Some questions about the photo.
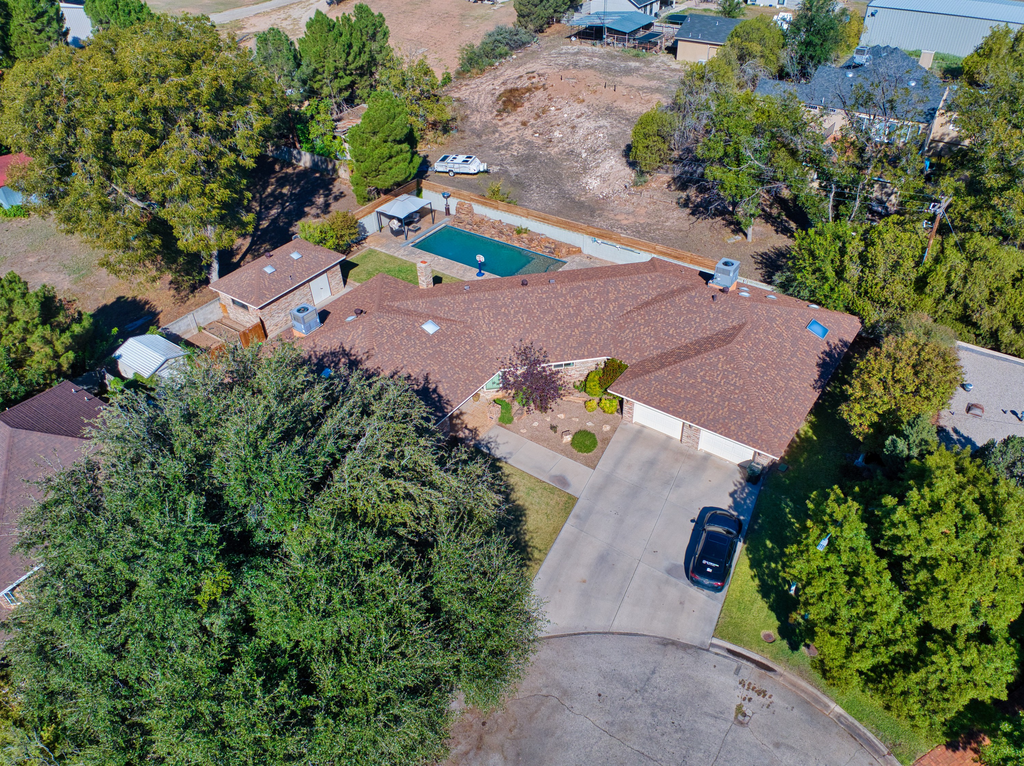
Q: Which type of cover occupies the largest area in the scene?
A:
trees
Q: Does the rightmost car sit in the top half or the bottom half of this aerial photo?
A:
bottom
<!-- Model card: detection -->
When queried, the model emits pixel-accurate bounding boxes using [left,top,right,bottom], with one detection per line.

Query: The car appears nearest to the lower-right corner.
[692,507,749,590]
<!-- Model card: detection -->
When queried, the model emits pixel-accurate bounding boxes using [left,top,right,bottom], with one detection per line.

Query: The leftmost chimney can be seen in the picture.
[417,258,436,288]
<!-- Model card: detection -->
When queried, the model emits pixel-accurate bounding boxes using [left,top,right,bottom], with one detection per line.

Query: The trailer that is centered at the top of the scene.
[436,150,493,174]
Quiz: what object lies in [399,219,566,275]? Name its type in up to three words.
swimming pool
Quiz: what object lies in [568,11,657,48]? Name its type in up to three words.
barn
